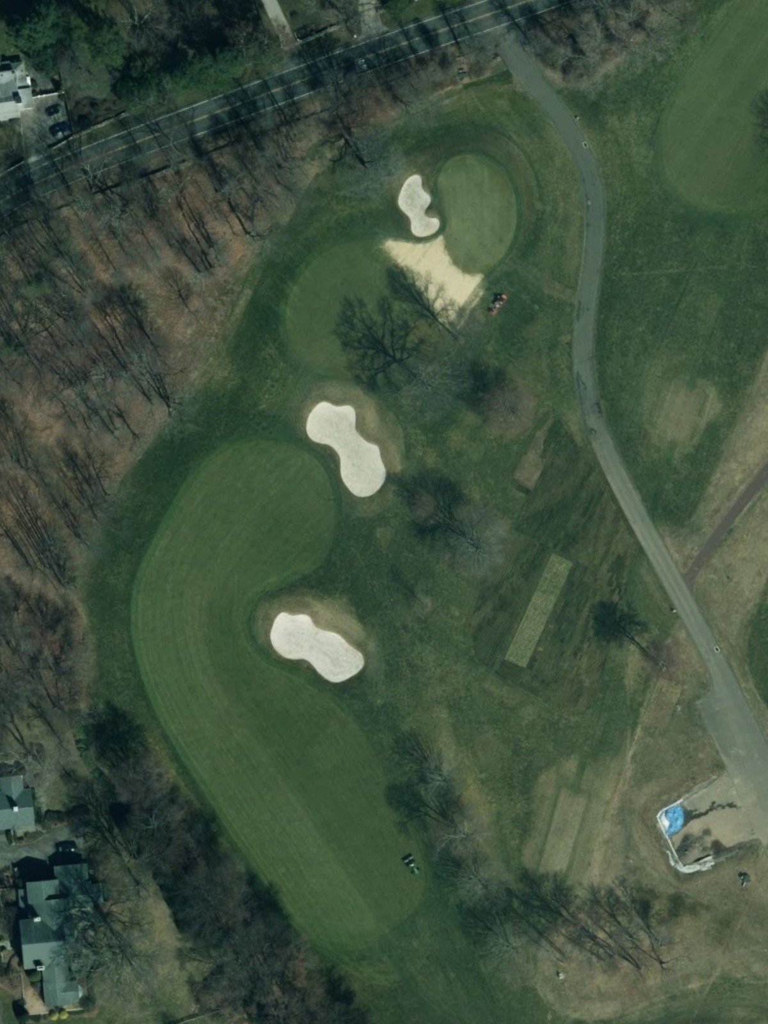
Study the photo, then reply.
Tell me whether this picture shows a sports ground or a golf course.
golf course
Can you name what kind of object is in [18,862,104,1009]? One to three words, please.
house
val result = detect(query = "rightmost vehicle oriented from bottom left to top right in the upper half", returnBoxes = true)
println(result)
[490,292,506,313]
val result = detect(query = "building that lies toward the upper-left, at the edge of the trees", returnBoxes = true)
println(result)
[0,58,35,122]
